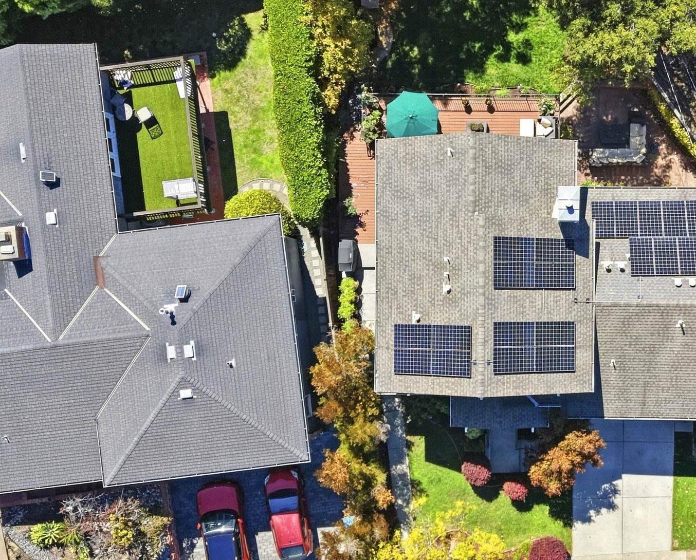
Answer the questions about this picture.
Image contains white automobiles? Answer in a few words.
No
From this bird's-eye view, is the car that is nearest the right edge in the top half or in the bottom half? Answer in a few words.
bottom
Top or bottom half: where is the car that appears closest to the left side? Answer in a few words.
bottom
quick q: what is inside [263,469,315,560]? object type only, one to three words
car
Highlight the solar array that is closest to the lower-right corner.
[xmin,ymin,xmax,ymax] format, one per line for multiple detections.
[494,322,575,375]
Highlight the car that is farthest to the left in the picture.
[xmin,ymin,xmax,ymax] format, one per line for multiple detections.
[197,483,255,560]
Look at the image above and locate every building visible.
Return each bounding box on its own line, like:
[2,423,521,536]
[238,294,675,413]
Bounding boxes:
[0,42,322,496]
[374,133,696,433]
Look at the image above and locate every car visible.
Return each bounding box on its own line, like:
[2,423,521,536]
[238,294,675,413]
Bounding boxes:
[197,483,255,560]
[263,469,315,560]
